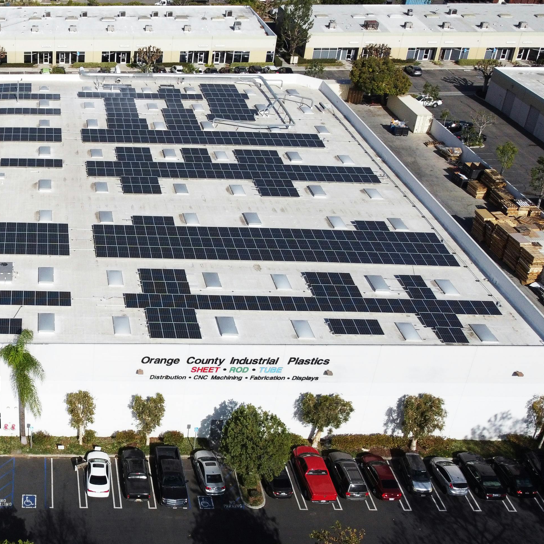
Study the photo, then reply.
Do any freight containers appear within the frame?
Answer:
Yes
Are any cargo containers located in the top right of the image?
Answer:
Yes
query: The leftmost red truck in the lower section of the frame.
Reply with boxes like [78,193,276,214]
[291,447,333,501]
